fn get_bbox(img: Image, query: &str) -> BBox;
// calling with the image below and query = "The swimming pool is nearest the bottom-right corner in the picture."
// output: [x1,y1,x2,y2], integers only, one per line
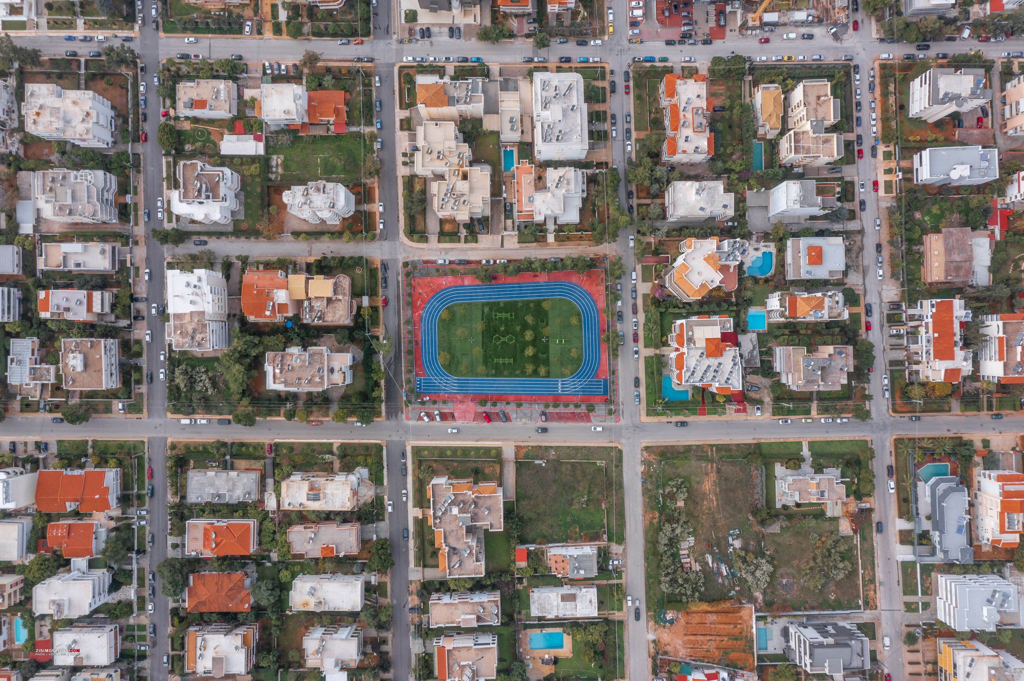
[917,463,951,475]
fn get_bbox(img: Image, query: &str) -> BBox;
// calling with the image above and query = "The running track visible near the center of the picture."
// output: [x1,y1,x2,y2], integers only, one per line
[411,269,609,403]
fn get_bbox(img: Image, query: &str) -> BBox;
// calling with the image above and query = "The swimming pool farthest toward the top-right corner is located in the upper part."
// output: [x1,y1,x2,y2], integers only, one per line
[752,139,764,175]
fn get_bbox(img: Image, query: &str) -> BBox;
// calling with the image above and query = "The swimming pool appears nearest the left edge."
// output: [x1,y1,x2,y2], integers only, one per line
[14,618,28,646]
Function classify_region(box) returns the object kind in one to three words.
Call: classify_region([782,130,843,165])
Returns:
building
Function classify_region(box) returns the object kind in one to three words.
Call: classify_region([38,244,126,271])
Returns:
house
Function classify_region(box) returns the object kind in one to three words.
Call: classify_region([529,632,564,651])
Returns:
swimming pool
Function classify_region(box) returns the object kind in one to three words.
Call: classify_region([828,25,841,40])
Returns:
vehicle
